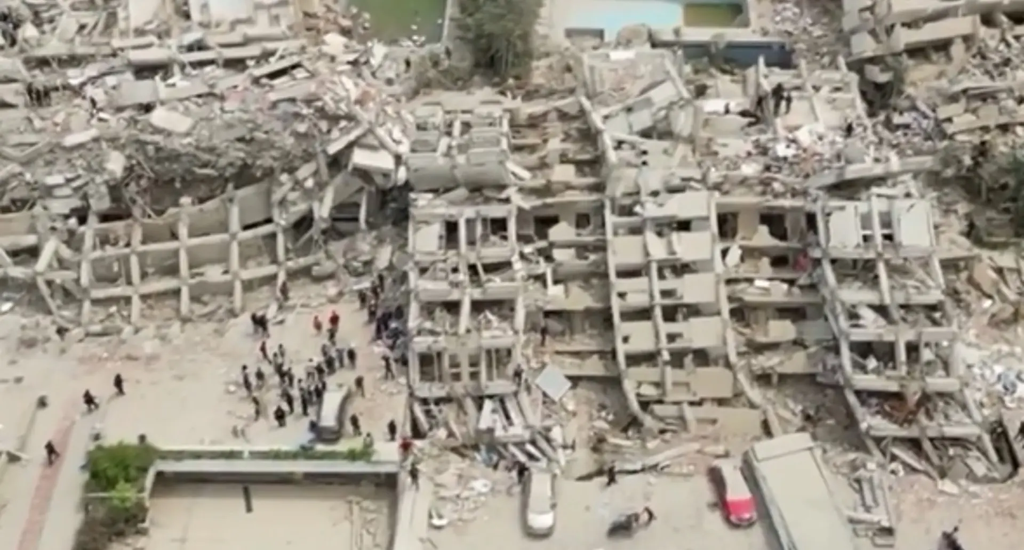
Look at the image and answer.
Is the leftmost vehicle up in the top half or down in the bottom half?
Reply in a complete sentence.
The leftmost vehicle sits in the bottom half of the picture.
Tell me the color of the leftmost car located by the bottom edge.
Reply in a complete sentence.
The leftmost car located by the bottom edge is white.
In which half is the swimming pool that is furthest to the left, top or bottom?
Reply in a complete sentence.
The swimming pool that is furthest to the left is in the top half of the image.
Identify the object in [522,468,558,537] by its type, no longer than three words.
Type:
car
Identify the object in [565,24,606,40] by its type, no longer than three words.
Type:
shed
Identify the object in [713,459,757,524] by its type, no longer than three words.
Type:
car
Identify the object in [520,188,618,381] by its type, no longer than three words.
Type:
building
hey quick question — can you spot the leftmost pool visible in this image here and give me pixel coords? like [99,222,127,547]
[553,0,680,43]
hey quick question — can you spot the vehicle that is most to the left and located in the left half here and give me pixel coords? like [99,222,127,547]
[313,380,349,437]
